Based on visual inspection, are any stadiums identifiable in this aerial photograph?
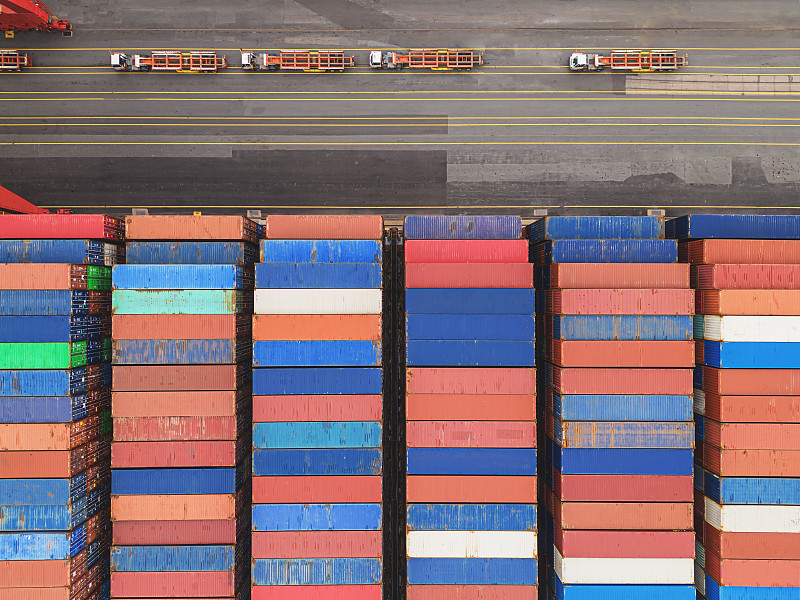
No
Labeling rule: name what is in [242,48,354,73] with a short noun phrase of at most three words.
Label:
truck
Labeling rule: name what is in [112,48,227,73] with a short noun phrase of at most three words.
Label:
truck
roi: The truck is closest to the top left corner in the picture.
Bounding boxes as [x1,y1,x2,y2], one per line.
[0,51,30,73]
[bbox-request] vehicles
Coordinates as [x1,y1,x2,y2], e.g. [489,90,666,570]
[112,48,227,73]
[371,47,482,71]
[0,51,30,73]
[242,48,354,73]
[573,48,685,73]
